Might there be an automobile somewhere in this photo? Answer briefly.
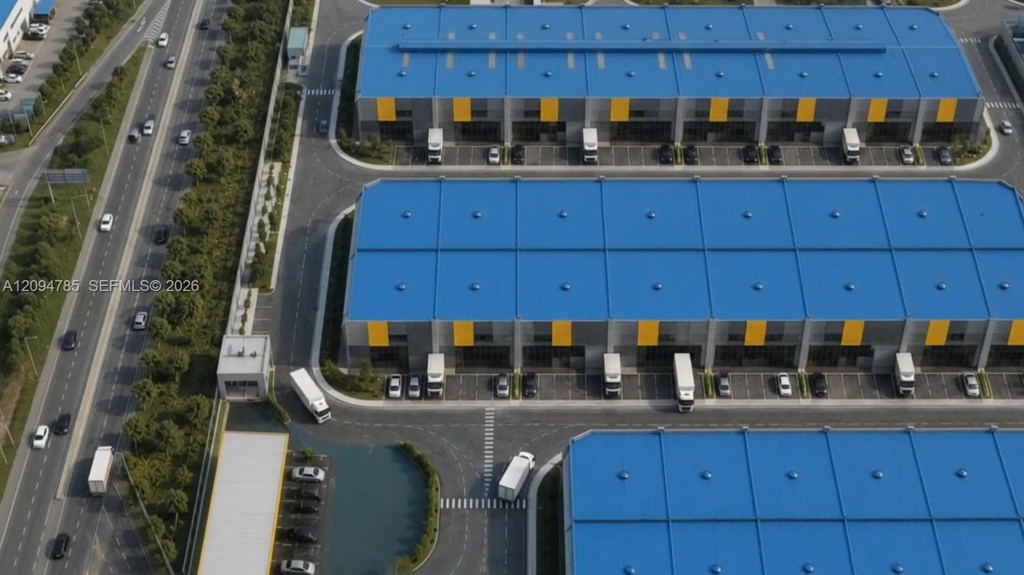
Yes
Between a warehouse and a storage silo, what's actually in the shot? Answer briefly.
warehouse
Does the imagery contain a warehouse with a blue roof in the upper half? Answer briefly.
Yes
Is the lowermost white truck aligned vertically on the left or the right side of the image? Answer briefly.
left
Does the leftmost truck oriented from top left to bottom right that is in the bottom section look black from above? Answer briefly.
No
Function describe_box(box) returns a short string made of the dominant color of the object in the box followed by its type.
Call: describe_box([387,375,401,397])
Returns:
white car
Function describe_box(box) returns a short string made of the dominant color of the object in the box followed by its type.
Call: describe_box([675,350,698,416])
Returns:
white truck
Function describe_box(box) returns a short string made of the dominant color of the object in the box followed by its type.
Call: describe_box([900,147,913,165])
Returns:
gray vehicle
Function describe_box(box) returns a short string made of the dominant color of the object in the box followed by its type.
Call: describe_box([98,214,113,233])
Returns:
white car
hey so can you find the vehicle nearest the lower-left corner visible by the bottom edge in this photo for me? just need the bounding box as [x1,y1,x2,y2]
[50,535,69,562]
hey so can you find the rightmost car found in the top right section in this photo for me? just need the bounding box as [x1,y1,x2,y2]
[998,120,1015,136]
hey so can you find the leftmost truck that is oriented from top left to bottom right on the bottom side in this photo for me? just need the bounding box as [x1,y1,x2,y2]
[290,365,338,430]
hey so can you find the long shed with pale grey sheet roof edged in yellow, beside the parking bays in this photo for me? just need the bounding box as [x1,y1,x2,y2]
[199,432,290,575]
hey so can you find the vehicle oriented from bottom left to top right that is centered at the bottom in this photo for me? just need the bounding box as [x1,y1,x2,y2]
[496,449,539,506]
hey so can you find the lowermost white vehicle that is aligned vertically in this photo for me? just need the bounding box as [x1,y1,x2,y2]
[84,448,117,504]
